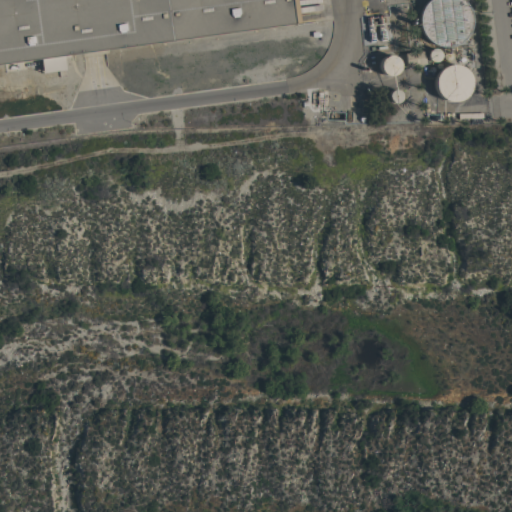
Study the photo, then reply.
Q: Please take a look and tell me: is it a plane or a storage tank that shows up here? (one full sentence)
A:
I can see a storage tank in this picture.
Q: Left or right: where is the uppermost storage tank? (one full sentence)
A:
The uppermost storage tank sits on the right side.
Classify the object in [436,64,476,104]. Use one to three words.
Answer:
storage tank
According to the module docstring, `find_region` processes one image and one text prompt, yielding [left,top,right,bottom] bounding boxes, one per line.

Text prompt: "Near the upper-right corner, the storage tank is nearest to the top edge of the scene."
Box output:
[420,0,476,52]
